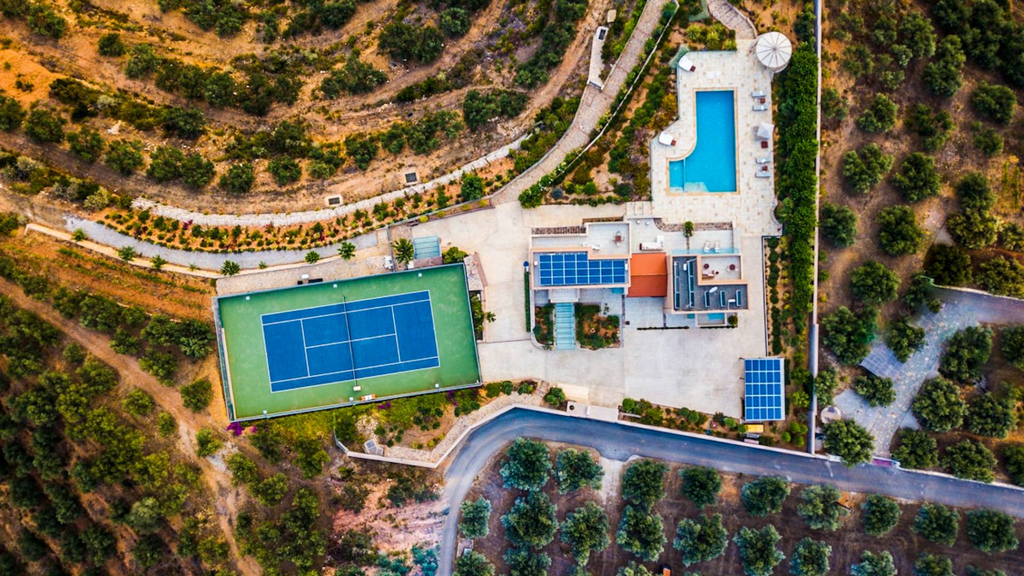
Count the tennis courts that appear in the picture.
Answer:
one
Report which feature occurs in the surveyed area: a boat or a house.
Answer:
house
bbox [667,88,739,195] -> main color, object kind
blue swimming pool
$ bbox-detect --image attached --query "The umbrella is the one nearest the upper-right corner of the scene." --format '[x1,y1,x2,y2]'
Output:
[761,120,778,137]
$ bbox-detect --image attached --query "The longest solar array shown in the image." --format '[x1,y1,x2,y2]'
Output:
[540,253,625,286]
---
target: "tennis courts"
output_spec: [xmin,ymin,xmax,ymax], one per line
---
[212,263,482,422]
